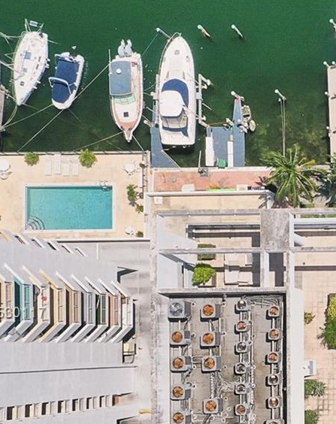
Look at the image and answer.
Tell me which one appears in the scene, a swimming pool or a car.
swimming pool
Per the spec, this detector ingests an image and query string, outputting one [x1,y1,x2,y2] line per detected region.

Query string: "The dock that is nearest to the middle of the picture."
[152,126,176,167]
